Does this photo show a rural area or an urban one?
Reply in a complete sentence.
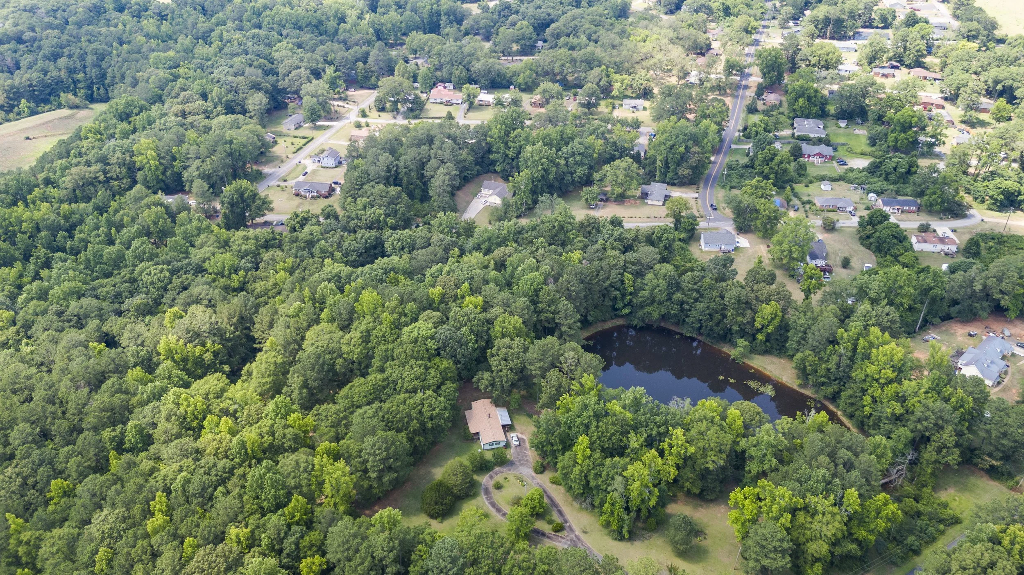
The land in this view is best described as rural.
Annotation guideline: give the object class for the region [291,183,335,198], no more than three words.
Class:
house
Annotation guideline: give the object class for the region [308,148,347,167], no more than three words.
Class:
house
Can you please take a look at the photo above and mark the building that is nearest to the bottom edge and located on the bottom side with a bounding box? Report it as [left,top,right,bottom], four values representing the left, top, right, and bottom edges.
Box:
[463,398,512,450]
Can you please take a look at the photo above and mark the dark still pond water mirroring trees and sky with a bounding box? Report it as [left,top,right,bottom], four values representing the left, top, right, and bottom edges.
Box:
[577,323,855,439]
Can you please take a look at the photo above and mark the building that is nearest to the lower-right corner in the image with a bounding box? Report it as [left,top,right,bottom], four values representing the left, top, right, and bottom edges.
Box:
[950,343,1024,389]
